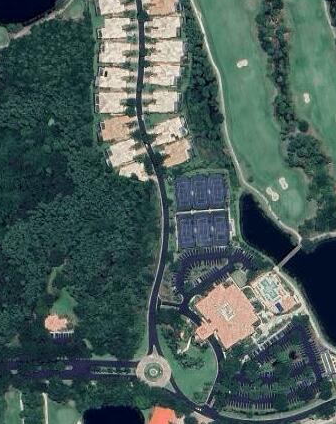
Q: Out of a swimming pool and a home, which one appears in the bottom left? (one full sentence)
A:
What appears in the bottom left is a home.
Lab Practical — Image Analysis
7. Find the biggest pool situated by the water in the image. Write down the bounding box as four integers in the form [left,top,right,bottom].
[251,272,302,316]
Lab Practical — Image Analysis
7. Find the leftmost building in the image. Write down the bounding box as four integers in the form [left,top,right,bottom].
[43,314,67,333]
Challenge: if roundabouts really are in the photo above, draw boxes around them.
[130,346,175,394]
